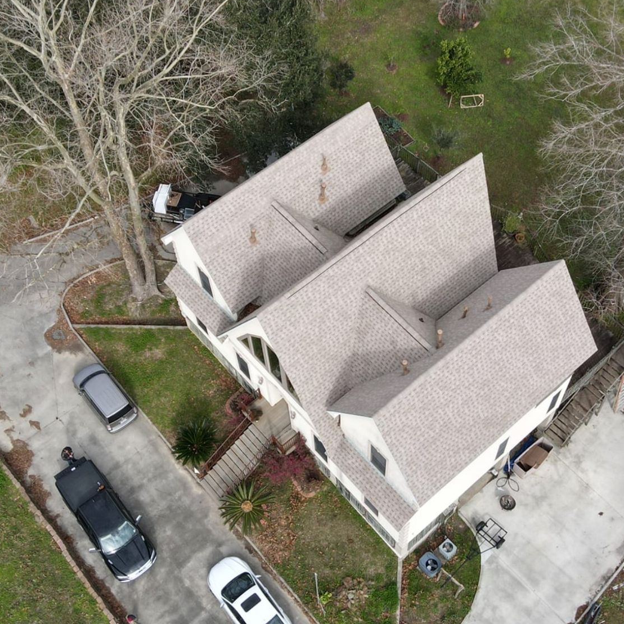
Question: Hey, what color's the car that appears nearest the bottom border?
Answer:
white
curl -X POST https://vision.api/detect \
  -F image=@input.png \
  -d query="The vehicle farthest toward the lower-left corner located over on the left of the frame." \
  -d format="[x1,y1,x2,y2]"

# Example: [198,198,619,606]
[53,452,156,581]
